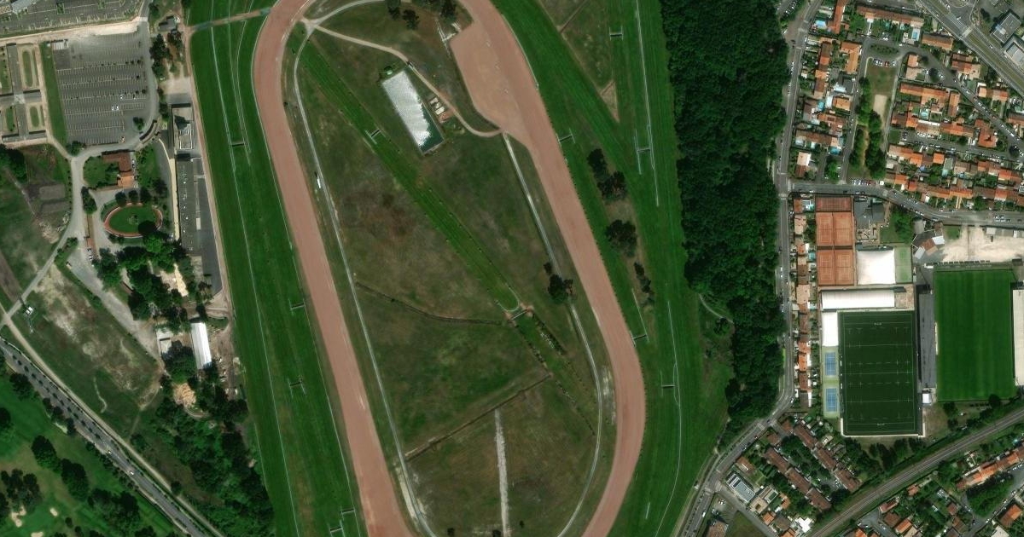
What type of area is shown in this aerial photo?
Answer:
sports ground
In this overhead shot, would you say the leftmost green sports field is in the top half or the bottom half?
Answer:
bottom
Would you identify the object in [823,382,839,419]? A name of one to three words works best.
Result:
tennis court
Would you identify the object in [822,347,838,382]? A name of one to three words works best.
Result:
tennis court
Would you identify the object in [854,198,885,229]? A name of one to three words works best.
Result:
building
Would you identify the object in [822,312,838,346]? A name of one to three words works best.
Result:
building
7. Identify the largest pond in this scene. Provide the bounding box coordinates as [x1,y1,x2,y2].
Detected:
[381,71,445,155]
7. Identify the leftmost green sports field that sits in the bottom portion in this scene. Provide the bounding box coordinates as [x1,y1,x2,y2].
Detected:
[837,309,926,438]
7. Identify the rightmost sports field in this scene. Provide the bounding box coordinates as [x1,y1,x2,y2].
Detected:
[935,269,1016,403]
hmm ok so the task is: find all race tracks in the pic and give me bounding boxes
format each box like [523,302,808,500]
[182,0,725,537]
